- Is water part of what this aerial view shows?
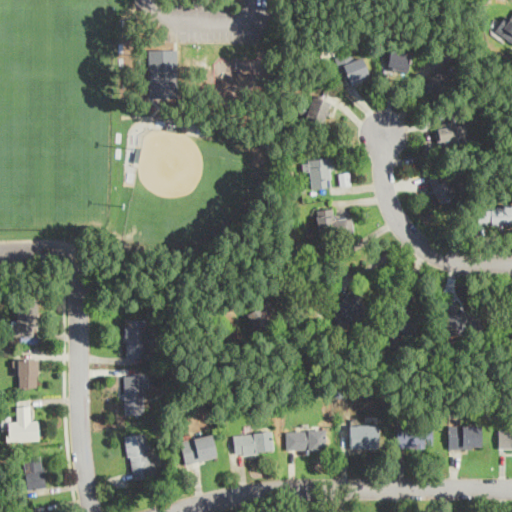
No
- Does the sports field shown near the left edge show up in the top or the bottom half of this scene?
top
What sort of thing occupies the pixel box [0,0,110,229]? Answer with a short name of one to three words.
sports field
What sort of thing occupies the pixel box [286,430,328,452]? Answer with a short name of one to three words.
house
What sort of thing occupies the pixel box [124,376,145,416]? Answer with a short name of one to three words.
house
